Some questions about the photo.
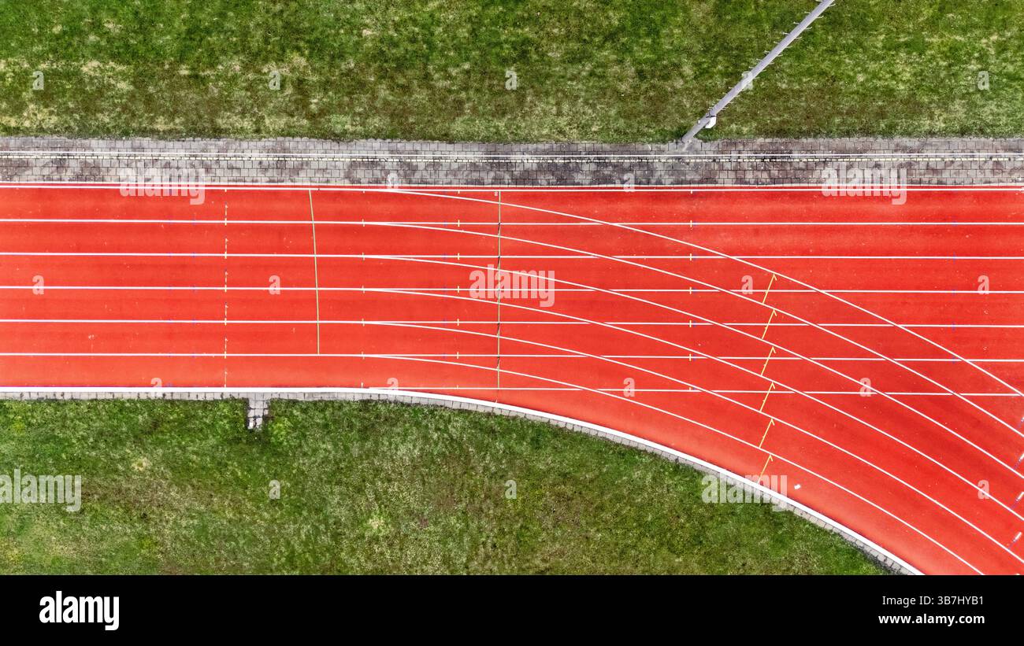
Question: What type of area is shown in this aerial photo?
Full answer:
This looks like a sports ground.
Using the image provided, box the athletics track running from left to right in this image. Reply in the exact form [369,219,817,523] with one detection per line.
[0,182,1024,639]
